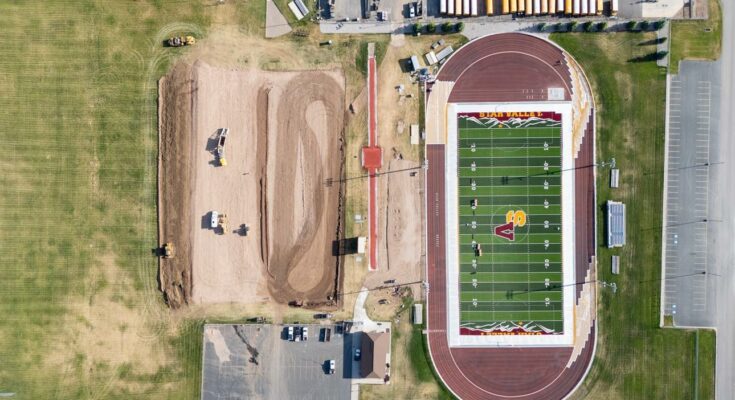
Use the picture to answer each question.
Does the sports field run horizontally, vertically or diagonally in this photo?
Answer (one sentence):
The sports field runs vertically in the image.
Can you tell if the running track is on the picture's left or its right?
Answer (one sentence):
It is on the right.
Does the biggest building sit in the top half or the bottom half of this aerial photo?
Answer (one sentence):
Seen from above, the biggest building lies in the bottom half of the view.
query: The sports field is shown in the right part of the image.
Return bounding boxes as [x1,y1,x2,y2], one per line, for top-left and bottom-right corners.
[446,101,574,348]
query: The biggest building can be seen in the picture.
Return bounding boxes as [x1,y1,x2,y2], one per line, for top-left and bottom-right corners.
[360,333,388,380]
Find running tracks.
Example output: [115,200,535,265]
[422,31,597,400]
